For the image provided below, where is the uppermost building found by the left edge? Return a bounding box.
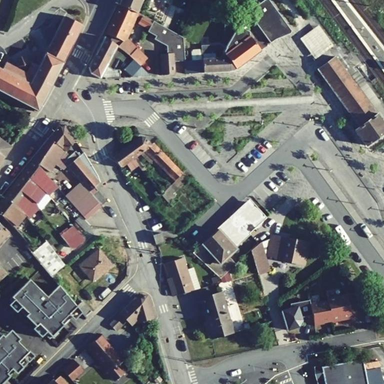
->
[0,16,84,110]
